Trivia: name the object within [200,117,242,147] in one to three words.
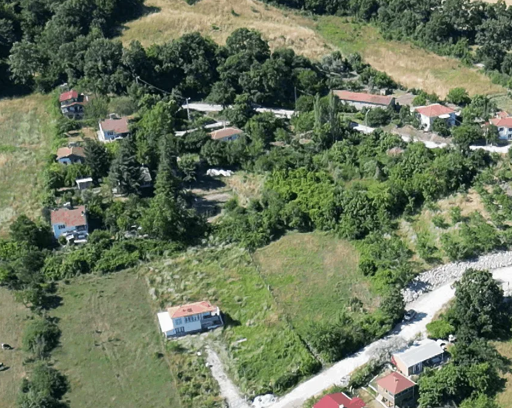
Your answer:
house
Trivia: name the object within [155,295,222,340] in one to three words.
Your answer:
house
